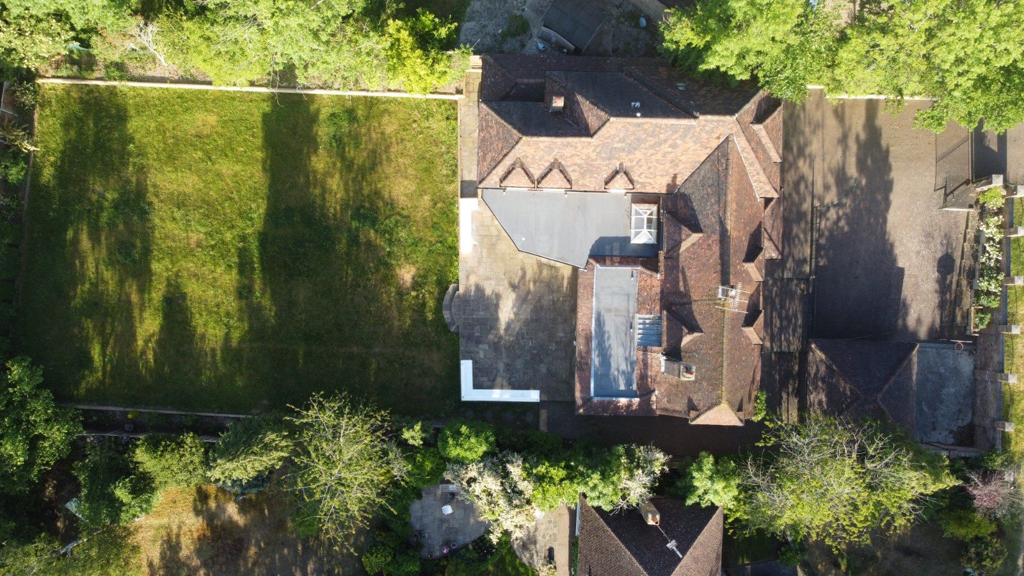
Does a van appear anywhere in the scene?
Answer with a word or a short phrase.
No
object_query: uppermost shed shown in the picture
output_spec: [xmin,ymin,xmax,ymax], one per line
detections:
[537,0,619,55]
